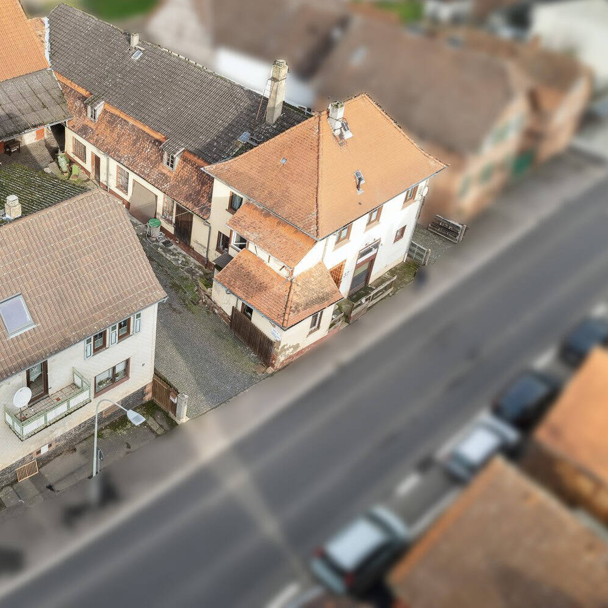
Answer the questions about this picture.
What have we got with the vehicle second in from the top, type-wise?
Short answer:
car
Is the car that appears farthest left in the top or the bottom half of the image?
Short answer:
bottom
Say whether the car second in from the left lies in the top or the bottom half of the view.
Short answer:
bottom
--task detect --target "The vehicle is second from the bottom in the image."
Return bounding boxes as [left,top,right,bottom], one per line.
[441,419,521,487]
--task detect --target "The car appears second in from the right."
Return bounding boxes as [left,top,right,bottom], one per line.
[500,363,572,425]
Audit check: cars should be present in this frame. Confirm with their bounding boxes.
[500,363,572,425]
[441,419,521,487]
[562,317,608,365]
[320,507,413,597]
